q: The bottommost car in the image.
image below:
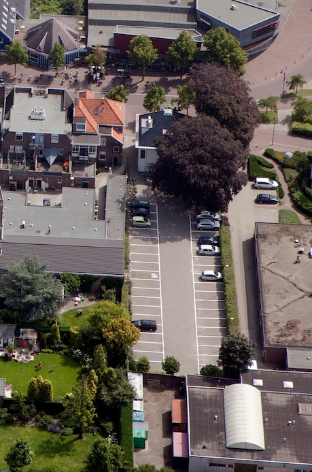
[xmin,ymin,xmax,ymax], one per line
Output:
[131,318,157,331]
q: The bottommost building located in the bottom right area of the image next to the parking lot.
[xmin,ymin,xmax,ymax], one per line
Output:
[185,369,312,472]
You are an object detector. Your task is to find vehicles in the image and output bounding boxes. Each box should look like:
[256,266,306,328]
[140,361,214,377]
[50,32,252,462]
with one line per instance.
[130,216,153,227]
[131,318,157,331]
[253,177,277,190]
[256,194,279,206]
[127,197,151,209]
[195,219,218,231]
[197,234,220,245]
[198,244,221,256]
[201,270,224,282]
[129,207,152,217]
